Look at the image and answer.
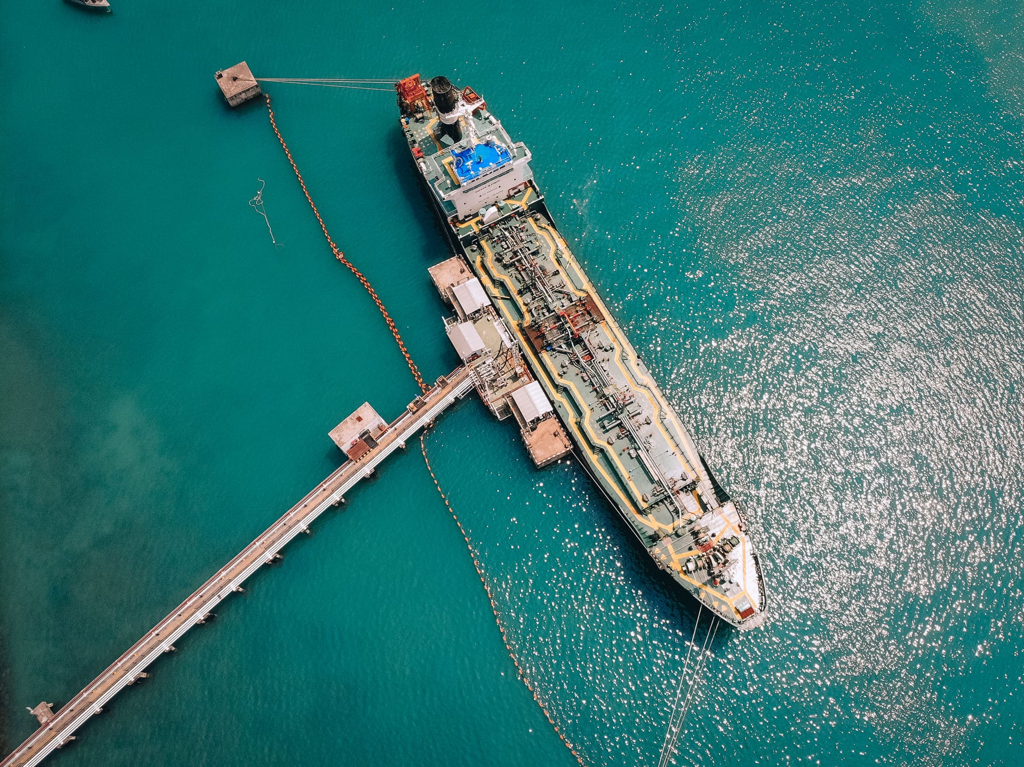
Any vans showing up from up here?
No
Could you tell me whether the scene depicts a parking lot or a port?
port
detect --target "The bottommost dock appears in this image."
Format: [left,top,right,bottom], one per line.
[0,358,495,767]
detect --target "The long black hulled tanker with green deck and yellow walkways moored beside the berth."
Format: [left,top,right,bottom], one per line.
[394,66,769,639]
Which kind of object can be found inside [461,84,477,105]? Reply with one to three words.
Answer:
boat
